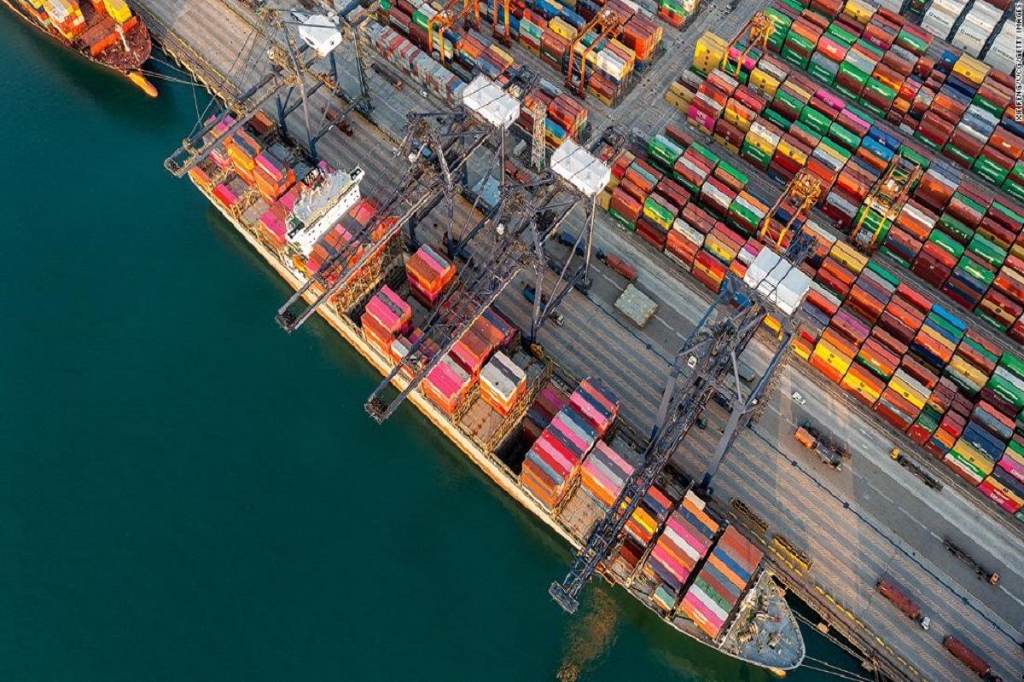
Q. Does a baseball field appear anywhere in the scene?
No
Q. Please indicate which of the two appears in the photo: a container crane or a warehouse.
container crane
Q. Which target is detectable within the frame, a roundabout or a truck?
truck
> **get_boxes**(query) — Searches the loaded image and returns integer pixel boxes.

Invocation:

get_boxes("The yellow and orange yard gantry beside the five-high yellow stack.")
[717,15,771,85]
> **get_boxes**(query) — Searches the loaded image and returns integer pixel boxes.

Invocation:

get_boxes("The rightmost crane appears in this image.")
[849,155,924,251]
